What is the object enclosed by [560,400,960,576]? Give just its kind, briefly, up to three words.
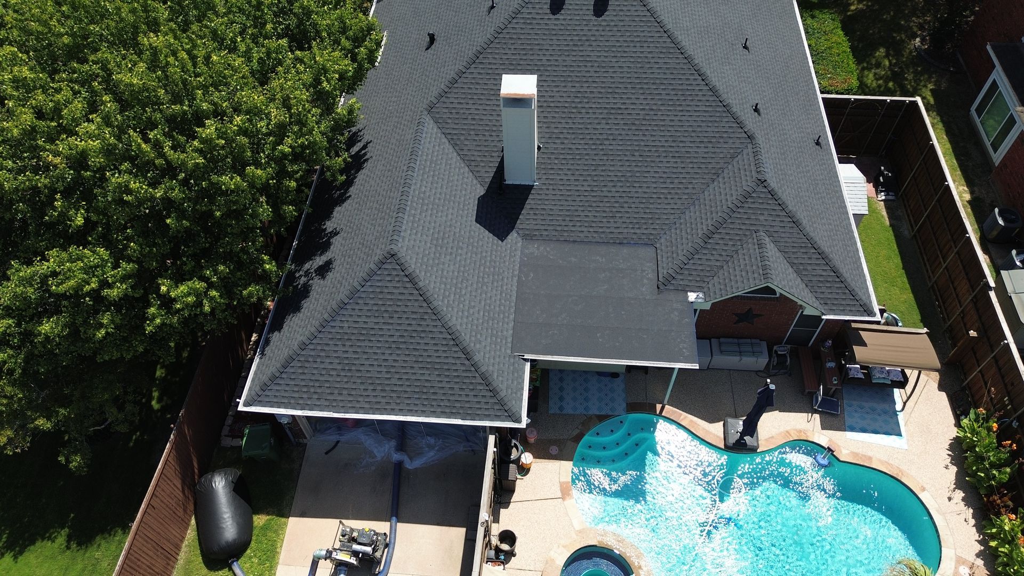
swimming pool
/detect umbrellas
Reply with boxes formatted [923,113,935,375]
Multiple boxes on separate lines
[724,379,783,449]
